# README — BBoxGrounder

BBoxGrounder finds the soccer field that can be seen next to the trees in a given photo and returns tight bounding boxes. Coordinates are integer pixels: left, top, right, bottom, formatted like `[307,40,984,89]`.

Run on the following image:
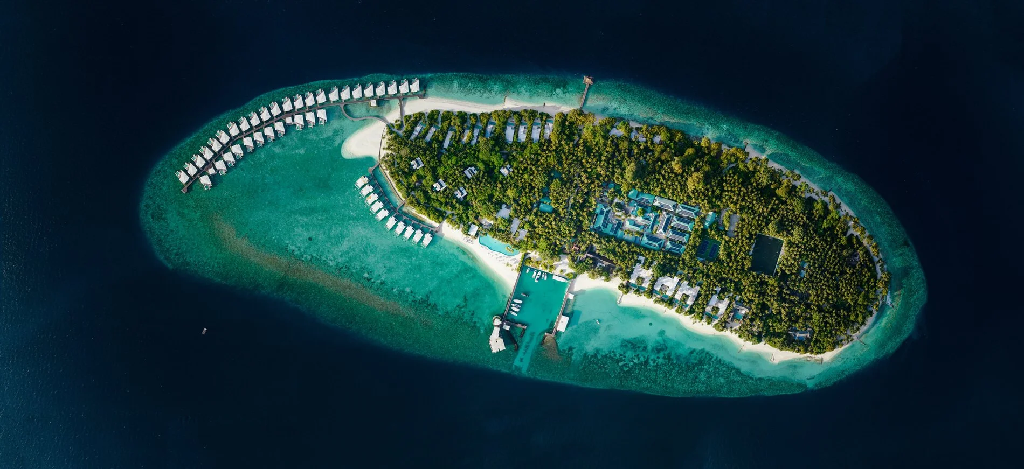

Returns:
[750,234,785,276]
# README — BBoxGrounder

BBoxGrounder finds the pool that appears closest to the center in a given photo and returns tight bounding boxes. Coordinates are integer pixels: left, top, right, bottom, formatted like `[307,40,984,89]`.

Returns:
[479,234,520,256]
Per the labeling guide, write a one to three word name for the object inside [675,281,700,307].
house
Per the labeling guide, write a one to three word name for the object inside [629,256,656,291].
house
